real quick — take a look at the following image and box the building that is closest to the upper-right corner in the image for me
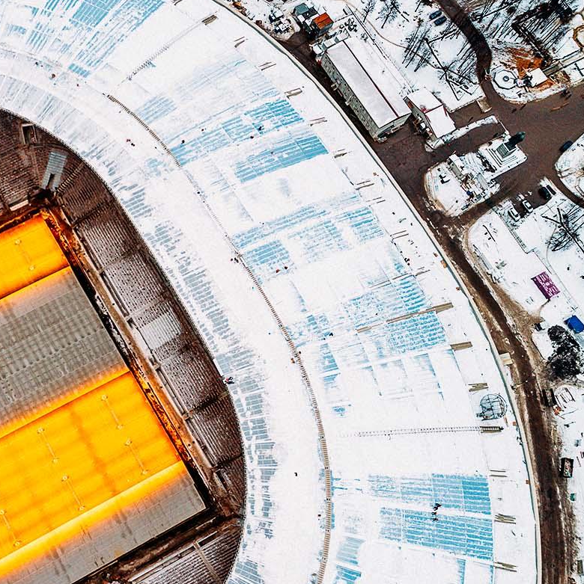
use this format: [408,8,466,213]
[522,68,547,92]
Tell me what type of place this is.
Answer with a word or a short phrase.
sports ground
